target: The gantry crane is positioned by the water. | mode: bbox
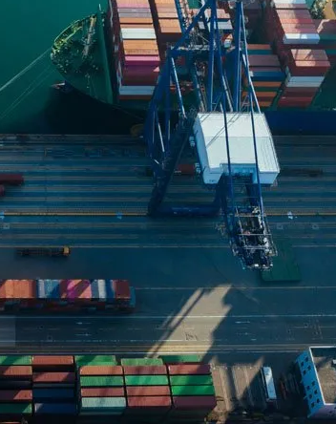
[136,0,280,271]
